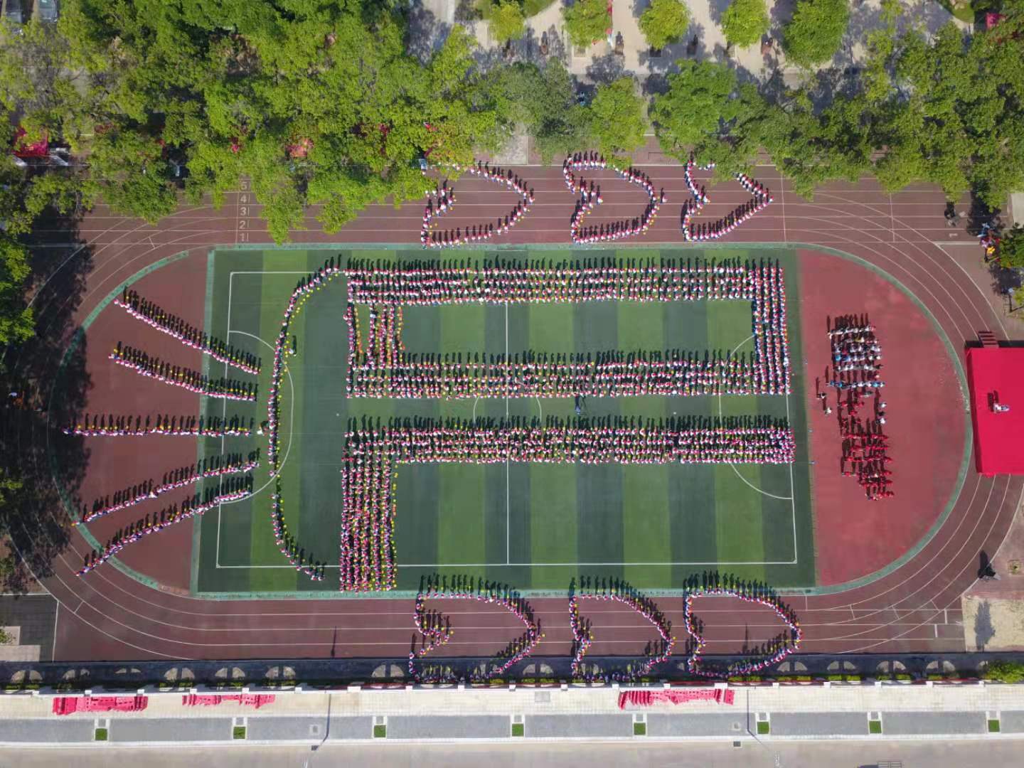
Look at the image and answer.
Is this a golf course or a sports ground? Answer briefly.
sports ground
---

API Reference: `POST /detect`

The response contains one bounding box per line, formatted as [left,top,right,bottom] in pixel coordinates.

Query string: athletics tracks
[0,164,1024,661]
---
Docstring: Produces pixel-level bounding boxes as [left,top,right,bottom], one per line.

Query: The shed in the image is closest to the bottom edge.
[995,191,1024,230]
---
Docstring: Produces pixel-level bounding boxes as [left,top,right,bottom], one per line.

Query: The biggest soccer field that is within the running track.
[199,248,817,593]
